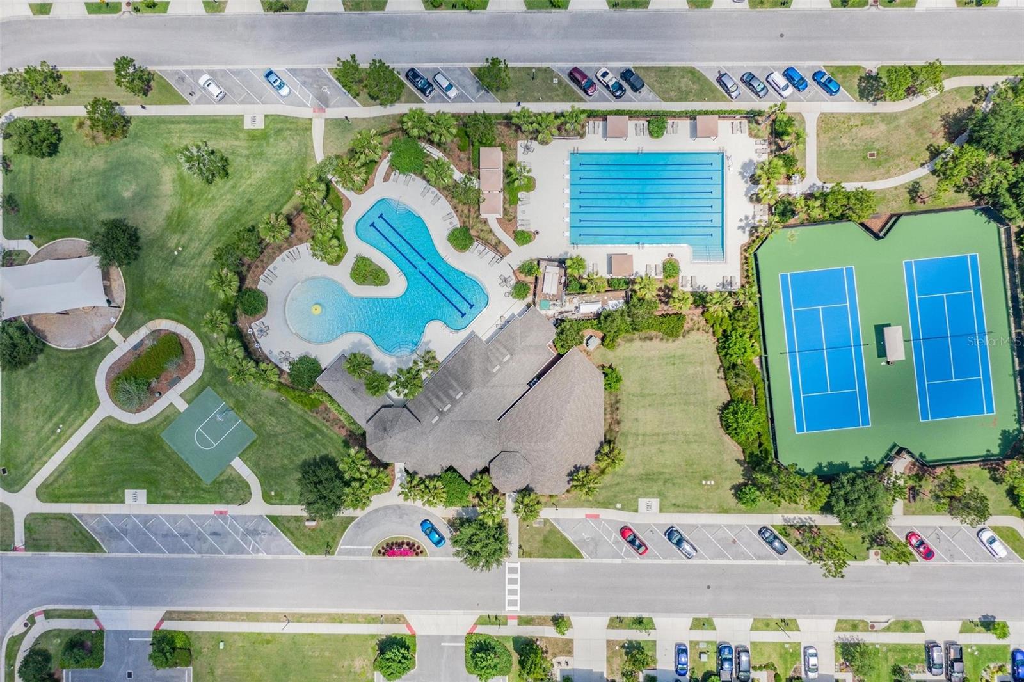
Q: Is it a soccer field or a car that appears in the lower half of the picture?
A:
car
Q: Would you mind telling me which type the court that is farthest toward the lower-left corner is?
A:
basketball court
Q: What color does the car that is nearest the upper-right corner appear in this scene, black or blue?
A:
blue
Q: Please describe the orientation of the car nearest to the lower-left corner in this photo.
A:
at an angle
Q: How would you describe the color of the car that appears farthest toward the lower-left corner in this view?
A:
blue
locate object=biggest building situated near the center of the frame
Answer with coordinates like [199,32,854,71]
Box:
[316,306,604,495]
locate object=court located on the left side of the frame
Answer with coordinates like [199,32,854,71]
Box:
[160,387,256,483]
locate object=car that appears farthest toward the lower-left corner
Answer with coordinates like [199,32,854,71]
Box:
[420,518,446,549]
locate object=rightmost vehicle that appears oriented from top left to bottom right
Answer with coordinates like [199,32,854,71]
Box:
[976,528,1006,557]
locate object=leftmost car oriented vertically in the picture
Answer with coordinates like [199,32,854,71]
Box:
[674,643,689,675]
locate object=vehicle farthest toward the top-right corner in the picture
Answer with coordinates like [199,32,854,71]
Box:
[811,69,841,97]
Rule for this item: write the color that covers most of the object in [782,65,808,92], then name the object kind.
blue car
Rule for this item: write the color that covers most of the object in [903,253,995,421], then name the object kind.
blue tennis court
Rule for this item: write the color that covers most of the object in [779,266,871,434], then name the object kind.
blue tennis court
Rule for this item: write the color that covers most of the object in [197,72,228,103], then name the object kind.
white car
